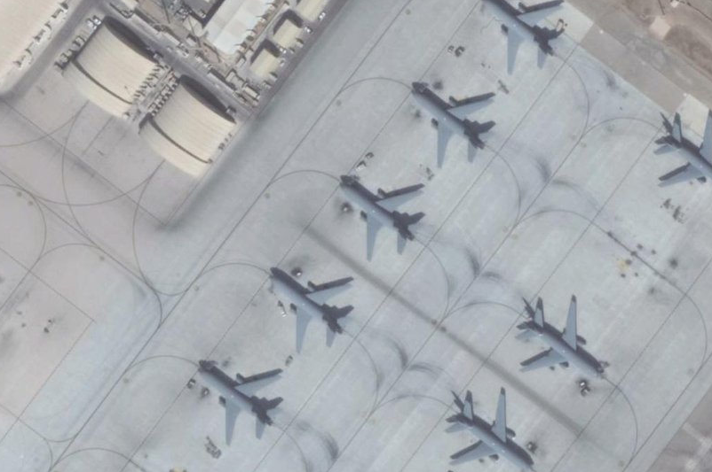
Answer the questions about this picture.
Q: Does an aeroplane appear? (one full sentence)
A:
Yes, there's an aeroplane down there.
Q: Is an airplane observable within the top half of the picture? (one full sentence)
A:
Yes, there is an airplane within the top half of the picture.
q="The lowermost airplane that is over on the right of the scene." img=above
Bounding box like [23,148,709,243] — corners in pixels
[445,391,532,472]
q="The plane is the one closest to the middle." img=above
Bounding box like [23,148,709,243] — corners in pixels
[341,183,424,264]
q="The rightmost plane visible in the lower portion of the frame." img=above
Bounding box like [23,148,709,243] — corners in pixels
[516,296,603,376]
